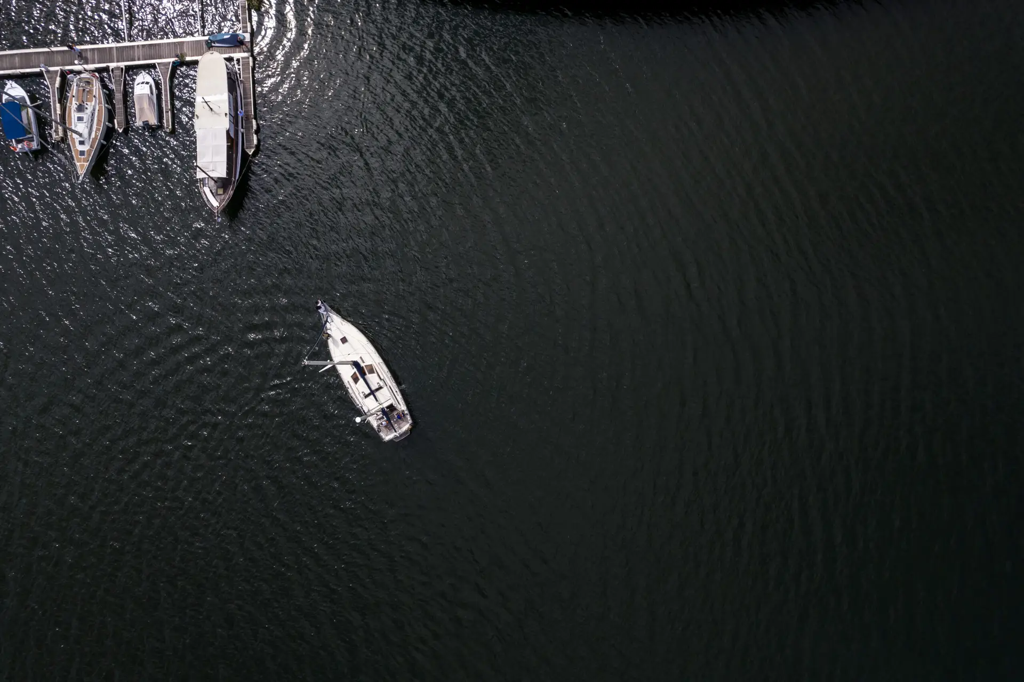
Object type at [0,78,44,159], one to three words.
boat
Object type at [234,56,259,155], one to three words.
pier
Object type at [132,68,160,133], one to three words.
boat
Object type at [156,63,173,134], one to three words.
pier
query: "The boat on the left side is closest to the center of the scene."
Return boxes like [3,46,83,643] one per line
[303,301,413,441]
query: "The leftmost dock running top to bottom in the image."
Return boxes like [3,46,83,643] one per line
[43,71,65,141]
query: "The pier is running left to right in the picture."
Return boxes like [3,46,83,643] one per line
[0,33,250,78]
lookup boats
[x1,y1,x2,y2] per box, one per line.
[194,52,243,220]
[208,32,244,47]
[132,68,160,133]
[0,78,44,159]
[0,60,109,182]
[303,301,413,441]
